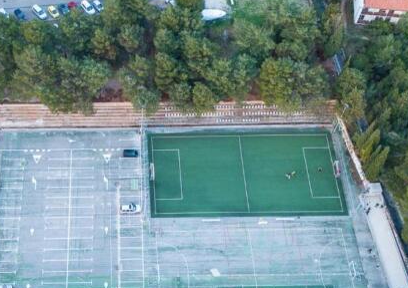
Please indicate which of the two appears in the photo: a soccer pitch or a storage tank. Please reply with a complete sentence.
The image shows a soccer pitch.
